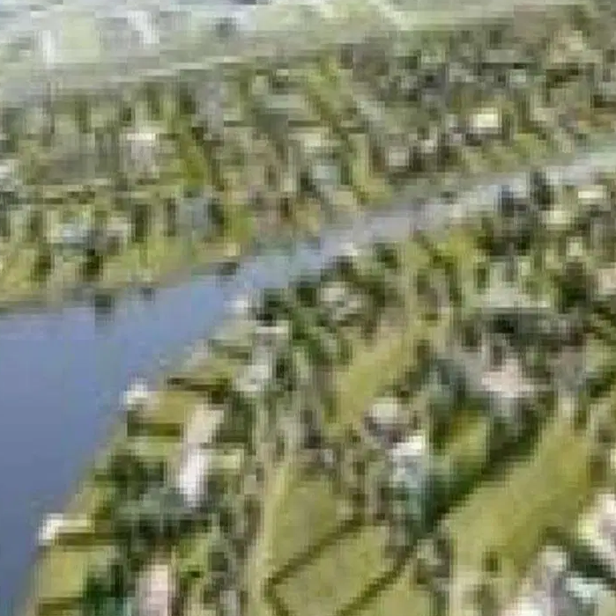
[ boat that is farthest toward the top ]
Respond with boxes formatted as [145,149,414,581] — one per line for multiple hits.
[219,257,241,271]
